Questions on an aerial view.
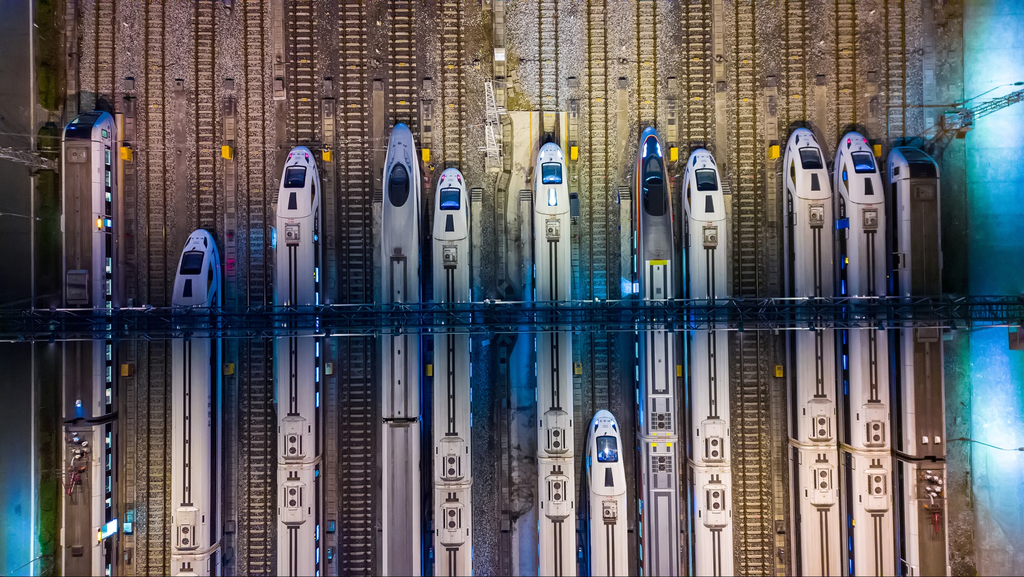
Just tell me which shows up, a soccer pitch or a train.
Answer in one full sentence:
There is a train in the scene.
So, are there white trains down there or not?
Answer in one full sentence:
Yes, a white train appears in the view.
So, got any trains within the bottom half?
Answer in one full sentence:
Yes, a train appears within the bottom half.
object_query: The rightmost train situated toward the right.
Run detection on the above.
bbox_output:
[885,143,947,577]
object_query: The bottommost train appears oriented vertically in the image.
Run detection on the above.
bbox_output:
[587,409,629,577]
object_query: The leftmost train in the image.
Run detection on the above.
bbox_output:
[63,112,119,577]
